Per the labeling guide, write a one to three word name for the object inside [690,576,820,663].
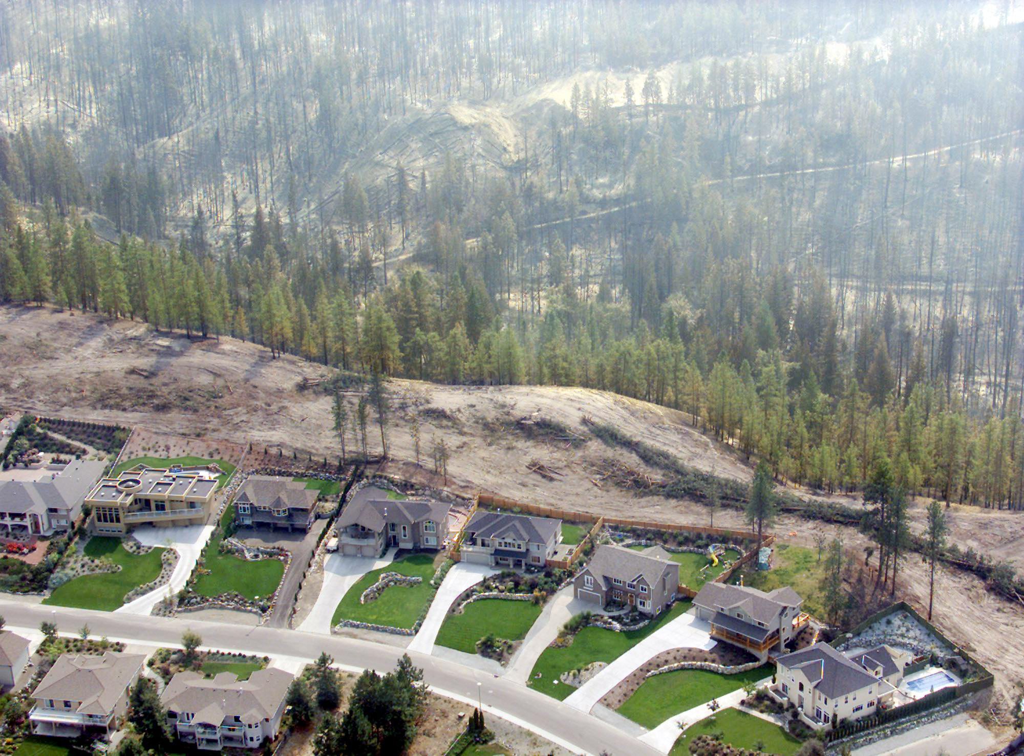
house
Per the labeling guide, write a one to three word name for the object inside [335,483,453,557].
house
